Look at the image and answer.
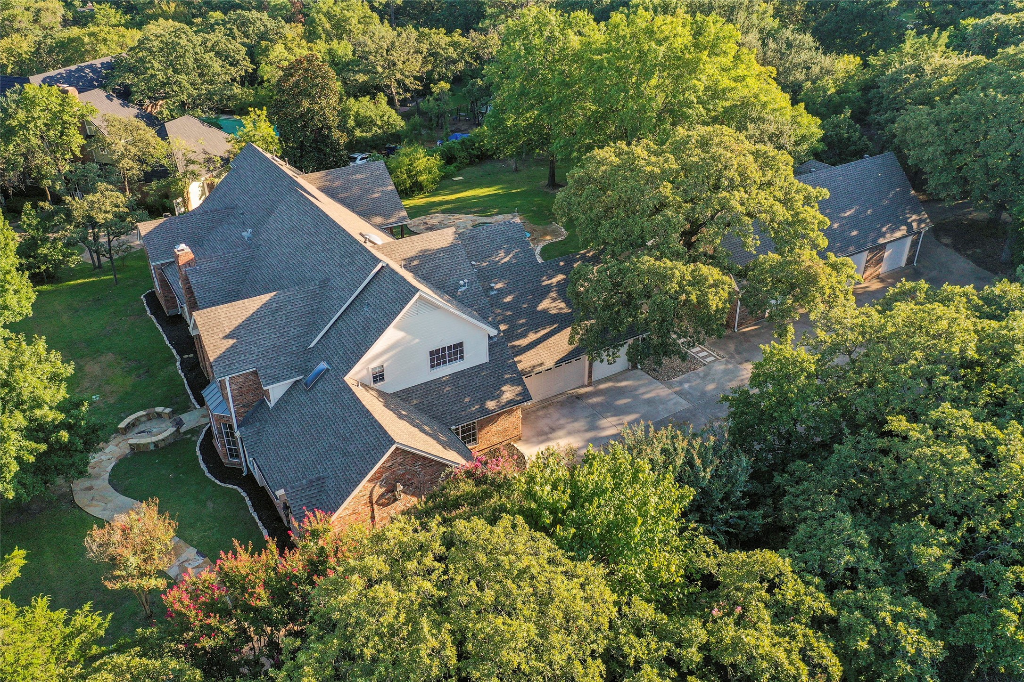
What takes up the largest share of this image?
trees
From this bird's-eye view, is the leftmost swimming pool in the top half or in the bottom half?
top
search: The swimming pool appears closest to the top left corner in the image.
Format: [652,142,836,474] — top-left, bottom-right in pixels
[202,109,313,143]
